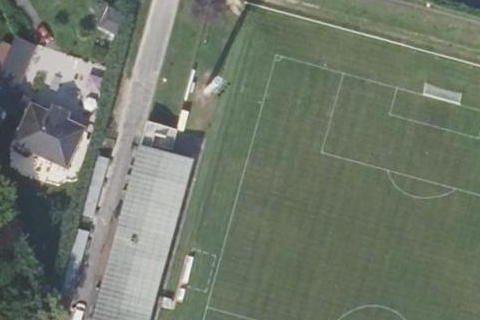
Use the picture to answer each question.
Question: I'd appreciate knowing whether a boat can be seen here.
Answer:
No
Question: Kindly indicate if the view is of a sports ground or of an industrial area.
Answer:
sports ground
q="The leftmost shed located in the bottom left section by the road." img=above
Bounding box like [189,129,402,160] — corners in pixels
[62,229,89,295]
